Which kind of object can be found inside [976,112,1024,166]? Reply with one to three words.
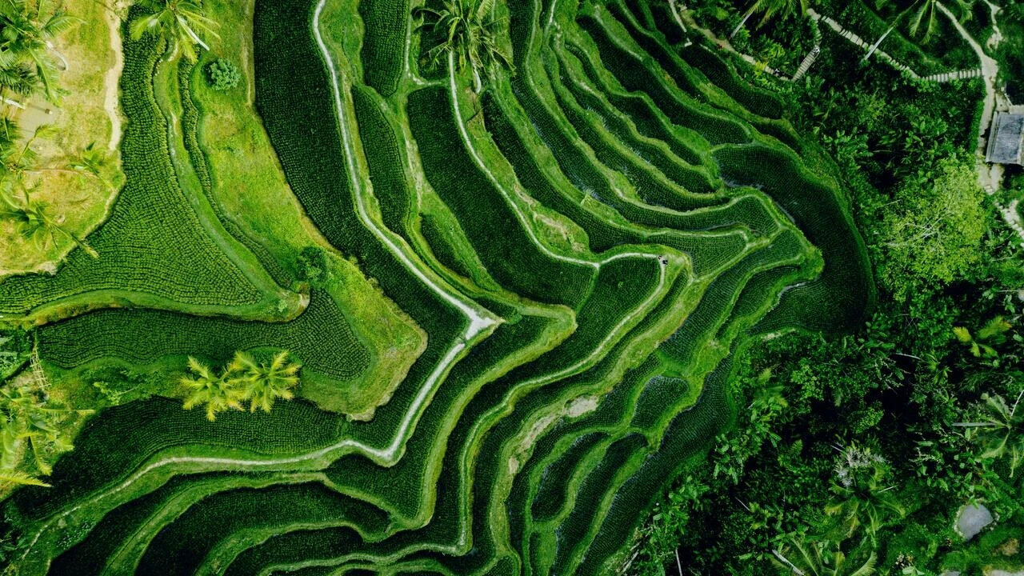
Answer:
shed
